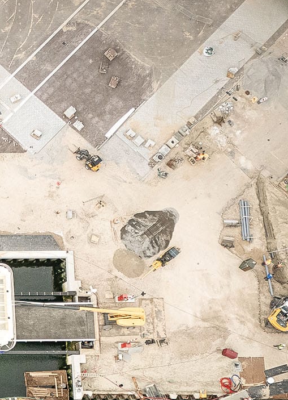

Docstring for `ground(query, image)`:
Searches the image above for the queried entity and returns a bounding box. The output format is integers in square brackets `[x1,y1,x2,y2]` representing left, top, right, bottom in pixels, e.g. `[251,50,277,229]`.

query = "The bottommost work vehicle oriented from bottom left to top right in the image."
[137,241,192,281]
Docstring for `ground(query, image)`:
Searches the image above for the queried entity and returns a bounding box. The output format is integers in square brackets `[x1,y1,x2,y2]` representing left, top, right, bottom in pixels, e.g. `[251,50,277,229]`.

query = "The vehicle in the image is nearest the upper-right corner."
[158,164,171,180]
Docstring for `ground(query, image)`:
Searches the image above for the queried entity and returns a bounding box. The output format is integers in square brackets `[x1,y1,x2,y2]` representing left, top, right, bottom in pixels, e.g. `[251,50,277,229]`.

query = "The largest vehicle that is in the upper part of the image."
[66,138,110,174]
